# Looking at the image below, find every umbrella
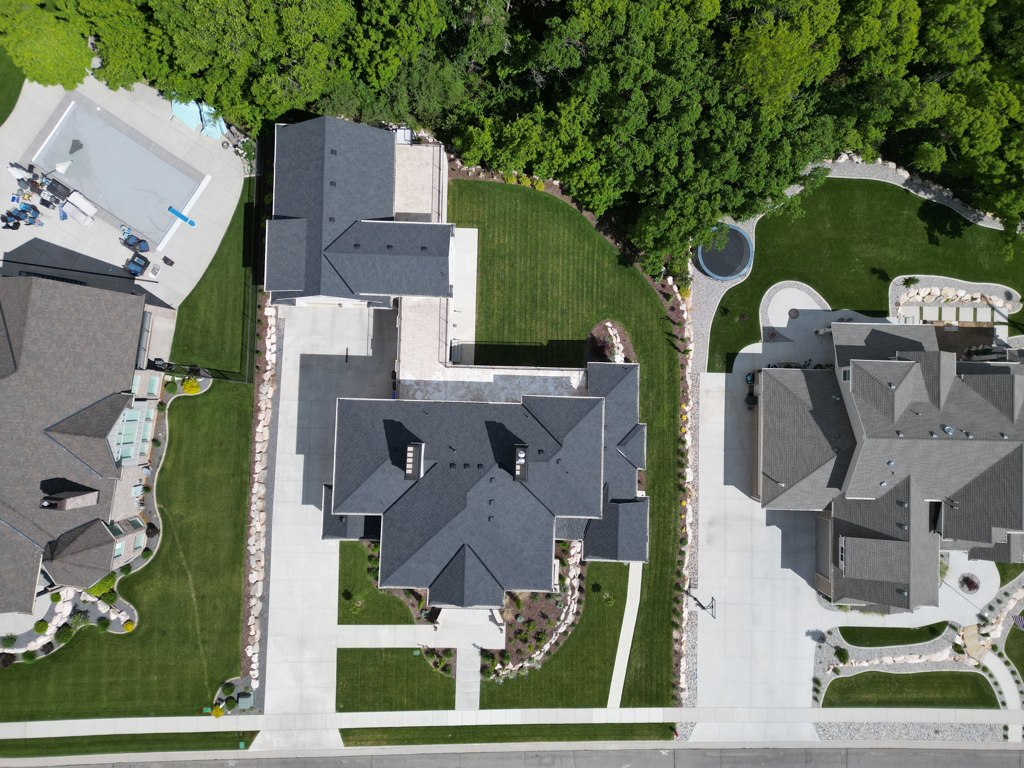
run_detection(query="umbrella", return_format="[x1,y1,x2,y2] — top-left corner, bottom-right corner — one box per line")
[5,166,28,183]
[48,159,72,180]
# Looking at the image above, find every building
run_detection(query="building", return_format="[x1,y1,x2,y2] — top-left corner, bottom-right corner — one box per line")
[320,360,651,629]
[263,115,457,311]
[0,273,177,615]
[754,322,1024,616]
